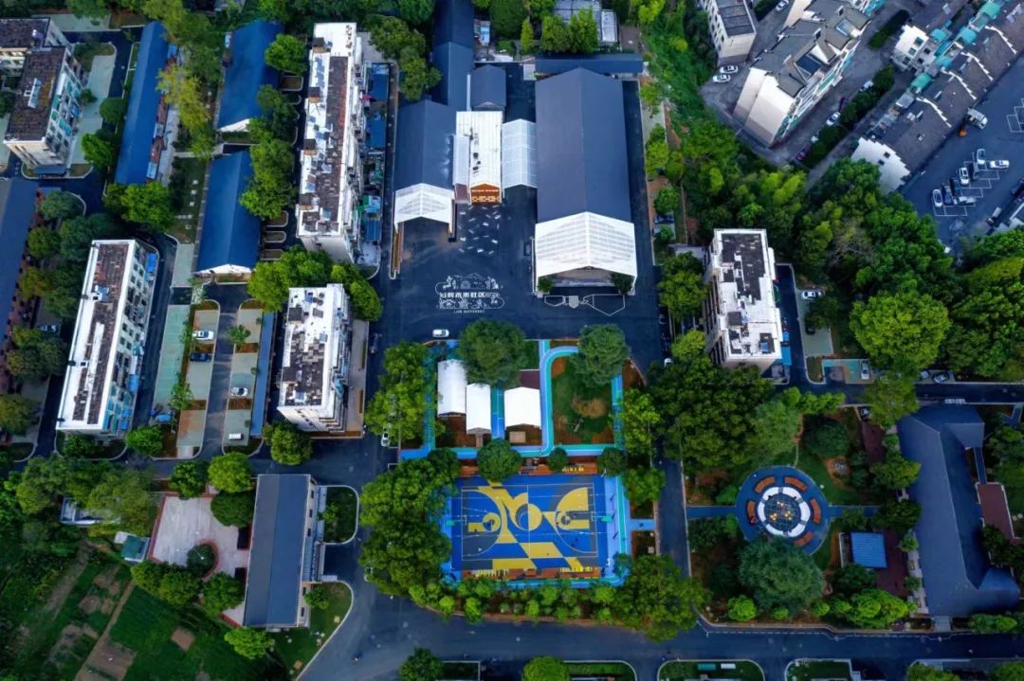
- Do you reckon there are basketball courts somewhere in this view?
Yes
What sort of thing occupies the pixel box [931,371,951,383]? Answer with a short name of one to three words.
vehicle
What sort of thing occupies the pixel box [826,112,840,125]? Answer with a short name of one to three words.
vehicle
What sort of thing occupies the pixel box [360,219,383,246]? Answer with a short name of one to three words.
shed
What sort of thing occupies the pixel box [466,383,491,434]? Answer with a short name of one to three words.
tent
